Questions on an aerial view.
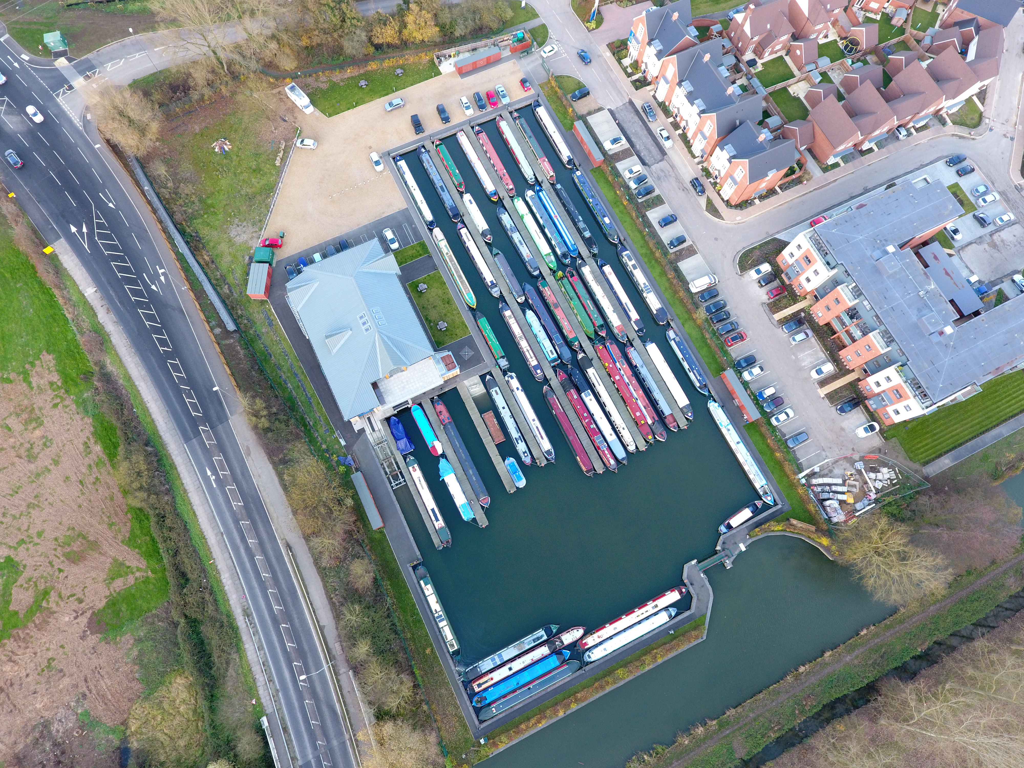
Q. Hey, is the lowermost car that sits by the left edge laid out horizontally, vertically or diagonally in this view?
diagonally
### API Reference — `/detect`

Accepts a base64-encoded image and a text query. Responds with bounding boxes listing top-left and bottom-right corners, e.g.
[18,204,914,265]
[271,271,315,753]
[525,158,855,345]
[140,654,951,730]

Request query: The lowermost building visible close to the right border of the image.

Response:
[777,182,1024,426]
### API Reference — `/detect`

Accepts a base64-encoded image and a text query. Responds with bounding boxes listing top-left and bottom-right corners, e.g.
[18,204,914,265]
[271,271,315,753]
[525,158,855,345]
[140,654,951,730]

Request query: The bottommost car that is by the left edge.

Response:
[4,150,25,170]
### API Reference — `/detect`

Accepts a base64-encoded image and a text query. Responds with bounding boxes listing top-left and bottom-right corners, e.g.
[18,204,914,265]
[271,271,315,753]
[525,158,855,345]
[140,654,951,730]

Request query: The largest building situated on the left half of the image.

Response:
[286,236,461,429]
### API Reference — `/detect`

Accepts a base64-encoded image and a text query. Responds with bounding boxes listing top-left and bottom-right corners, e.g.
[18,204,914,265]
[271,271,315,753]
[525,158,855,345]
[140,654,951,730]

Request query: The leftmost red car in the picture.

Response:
[260,237,283,250]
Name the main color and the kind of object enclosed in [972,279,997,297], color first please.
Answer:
blue car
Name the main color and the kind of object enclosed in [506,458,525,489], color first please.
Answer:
blue boat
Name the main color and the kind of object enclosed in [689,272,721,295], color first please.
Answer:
white vehicle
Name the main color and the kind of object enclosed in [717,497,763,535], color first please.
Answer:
white boat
